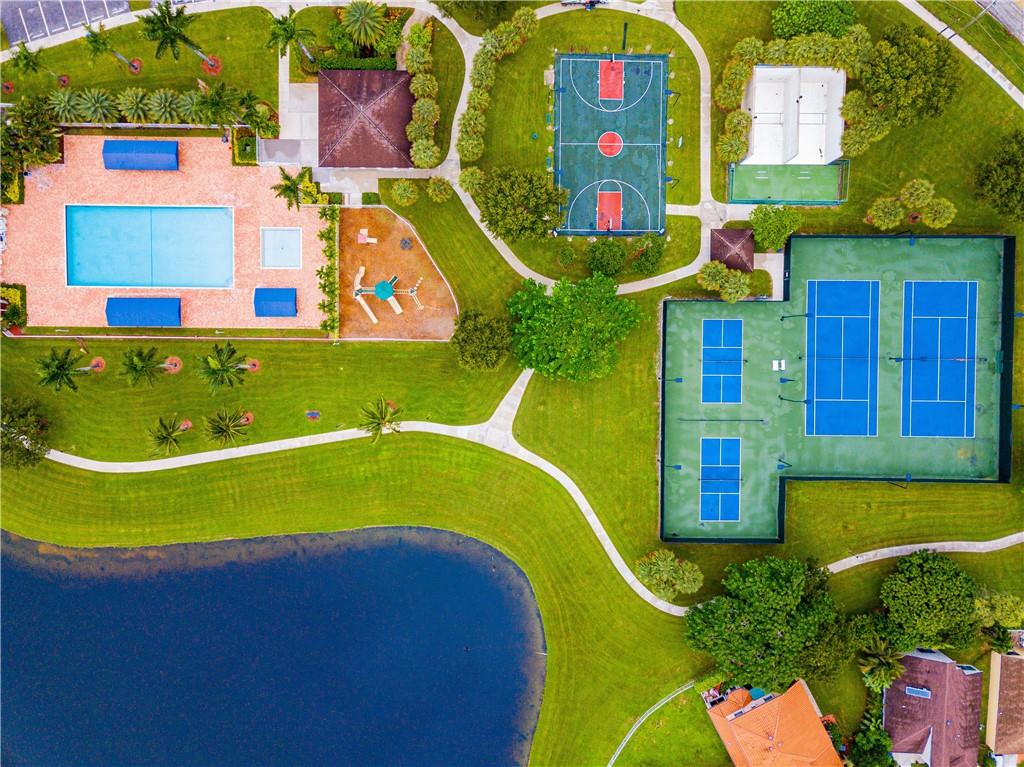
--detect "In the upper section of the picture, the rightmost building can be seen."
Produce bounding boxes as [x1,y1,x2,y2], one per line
[707,228,754,272]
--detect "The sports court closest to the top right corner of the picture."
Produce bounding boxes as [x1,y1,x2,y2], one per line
[735,66,845,202]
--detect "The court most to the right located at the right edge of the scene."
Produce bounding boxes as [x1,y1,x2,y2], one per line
[890,280,991,438]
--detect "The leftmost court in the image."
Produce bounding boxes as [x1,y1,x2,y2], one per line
[554,53,669,235]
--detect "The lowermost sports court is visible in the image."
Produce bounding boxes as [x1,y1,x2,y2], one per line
[697,438,744,522]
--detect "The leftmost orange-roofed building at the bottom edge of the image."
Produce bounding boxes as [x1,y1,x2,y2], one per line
[707,673,844,767]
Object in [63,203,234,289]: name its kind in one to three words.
swimming pool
